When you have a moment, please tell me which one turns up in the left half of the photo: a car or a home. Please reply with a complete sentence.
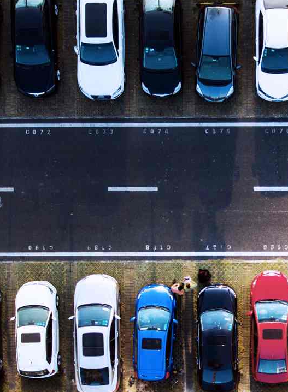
There is a car in the left half of the photo.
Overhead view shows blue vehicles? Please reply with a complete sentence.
Yes, the photo shows a blue vehicle.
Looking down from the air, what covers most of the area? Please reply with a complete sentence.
The scene is dominated by paved ground.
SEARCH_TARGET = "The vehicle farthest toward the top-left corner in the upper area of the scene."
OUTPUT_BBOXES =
[4,0,59,98]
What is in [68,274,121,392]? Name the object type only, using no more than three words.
car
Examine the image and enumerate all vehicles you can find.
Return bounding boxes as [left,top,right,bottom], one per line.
[4,0,59,98]
[133,0,182,97]
[68,274,121,392]
[252,0,288,101]
[192,285,241,391]
[6,282,60,378]
[127,284,176,381]
[192,4,240,103]
[246,270,288,383]
[69,0,124,101]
